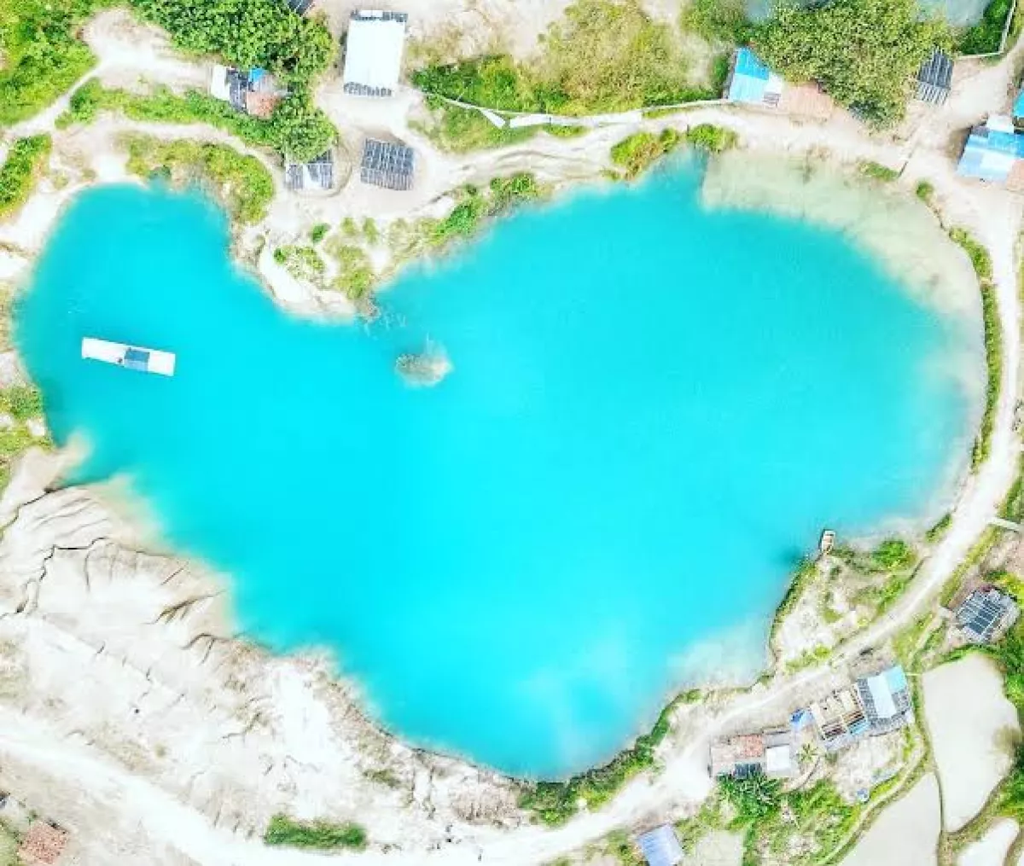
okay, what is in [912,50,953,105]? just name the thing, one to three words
shed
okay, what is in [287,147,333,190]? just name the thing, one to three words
shed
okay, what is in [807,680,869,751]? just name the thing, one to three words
house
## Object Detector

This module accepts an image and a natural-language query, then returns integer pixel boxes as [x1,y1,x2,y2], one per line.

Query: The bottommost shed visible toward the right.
[637,821,683,866]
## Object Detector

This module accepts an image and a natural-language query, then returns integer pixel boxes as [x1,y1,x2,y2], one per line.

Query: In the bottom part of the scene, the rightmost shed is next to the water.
[951,587,1017,642]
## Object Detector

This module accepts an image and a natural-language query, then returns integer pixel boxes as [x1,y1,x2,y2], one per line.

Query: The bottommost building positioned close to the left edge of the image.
[18,817,72,865]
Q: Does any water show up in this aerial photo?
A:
Yes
